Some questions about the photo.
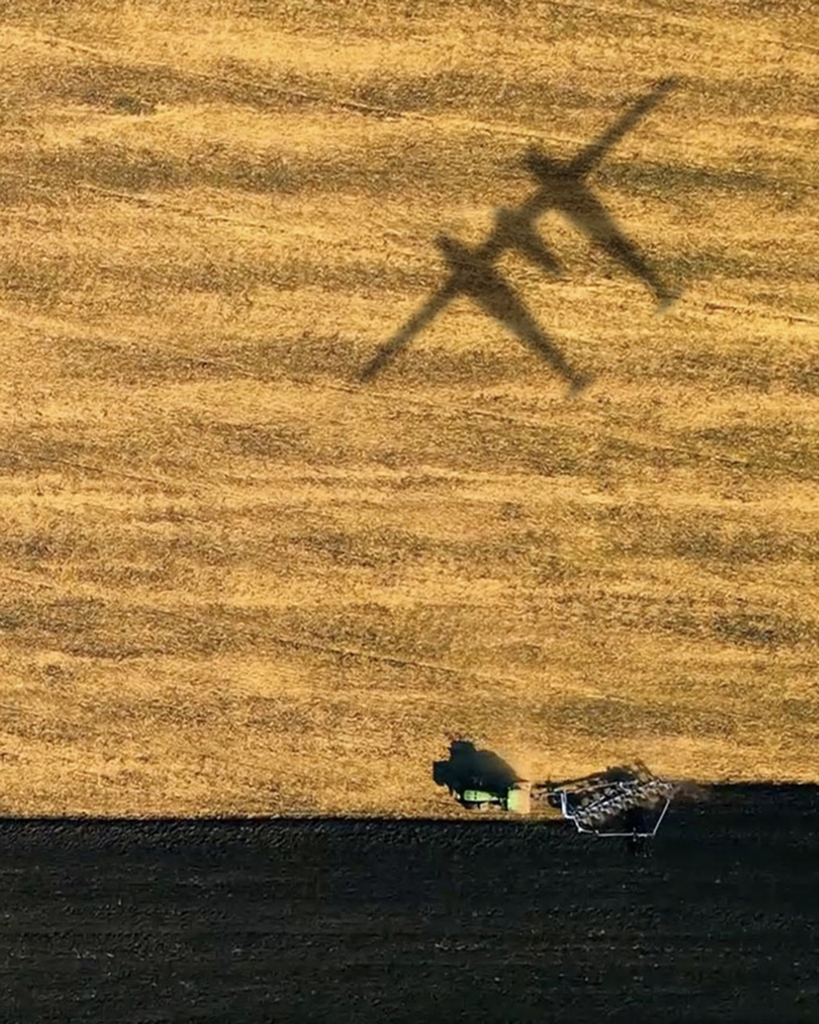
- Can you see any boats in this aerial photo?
No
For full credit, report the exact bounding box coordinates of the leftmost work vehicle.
[456,773,535,814]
